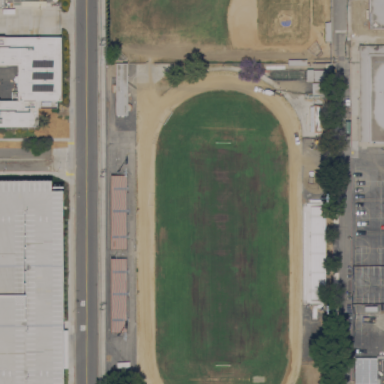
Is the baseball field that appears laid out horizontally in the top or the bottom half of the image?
top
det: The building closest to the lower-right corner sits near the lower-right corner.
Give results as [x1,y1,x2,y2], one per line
[354,358,380,384]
